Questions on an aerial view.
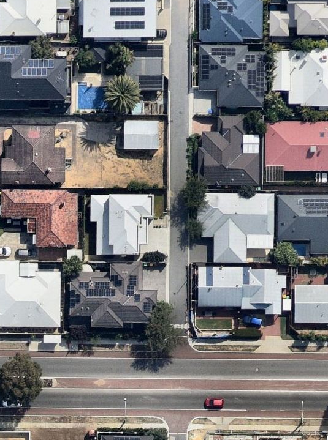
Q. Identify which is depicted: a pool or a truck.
pool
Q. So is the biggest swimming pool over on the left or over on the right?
left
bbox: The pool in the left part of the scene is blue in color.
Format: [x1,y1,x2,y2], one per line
[77,85,108,109]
